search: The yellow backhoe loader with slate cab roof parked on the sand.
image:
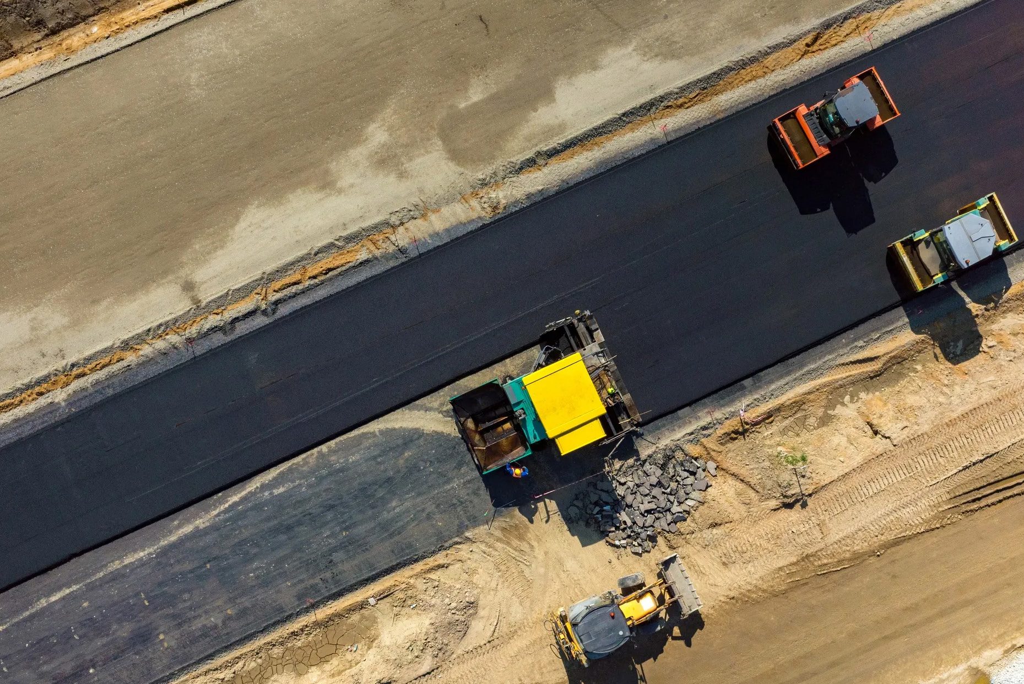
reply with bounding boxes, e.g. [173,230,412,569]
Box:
[550,548,702,668]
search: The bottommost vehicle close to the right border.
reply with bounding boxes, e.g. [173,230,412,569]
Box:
[884,193,1020,292]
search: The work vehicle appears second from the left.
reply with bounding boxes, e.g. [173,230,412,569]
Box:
[768,66,900,169]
